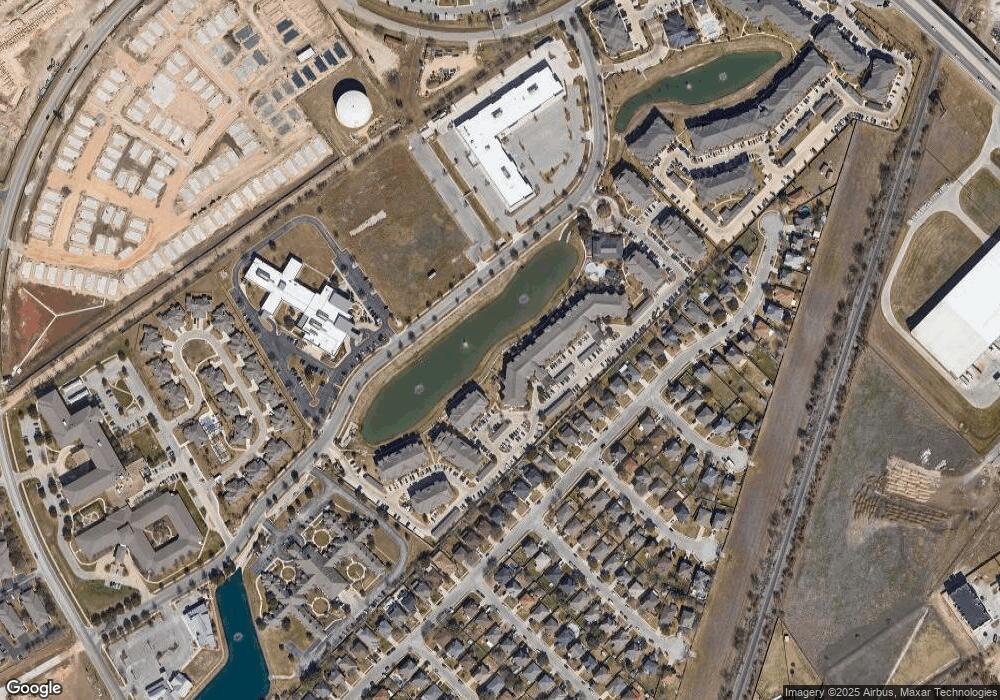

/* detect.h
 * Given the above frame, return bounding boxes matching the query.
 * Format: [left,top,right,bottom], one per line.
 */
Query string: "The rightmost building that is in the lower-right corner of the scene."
[949,583,992,630]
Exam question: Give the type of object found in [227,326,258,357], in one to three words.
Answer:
house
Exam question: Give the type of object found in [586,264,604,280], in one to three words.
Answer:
swimming pool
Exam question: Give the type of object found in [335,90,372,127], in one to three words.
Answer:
water tank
